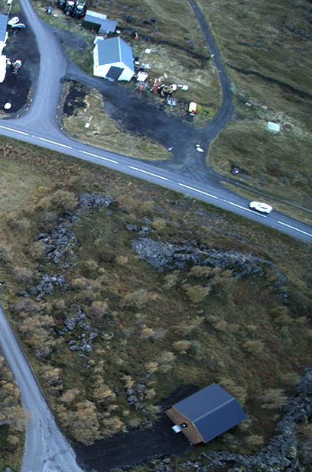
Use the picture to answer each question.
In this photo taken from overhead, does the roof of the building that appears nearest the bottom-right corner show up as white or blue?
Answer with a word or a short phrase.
blue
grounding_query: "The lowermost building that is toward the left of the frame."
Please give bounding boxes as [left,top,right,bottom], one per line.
[94,36,135,84]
